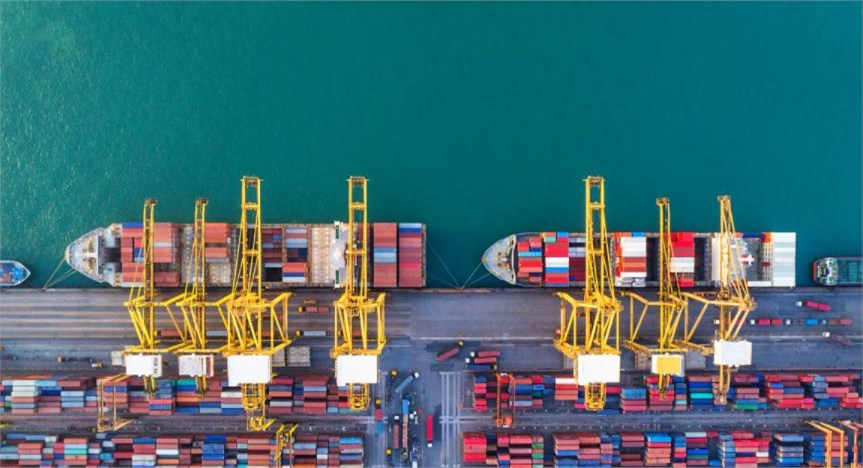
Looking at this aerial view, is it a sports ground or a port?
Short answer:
port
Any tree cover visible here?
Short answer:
No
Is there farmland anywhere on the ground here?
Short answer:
No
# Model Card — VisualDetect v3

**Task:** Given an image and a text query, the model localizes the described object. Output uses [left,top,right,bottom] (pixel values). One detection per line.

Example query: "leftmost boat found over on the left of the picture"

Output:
[0,261,35,285]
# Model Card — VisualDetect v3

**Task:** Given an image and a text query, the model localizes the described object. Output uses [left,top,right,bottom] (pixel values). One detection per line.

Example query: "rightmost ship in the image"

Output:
[806,257,863,286]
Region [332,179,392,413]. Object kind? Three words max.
container crane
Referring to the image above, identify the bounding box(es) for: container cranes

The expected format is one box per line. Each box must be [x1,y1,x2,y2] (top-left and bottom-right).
[490,368,517,431]
[225,179,296,412]
[276,420,306,468]
[332,179,392,413]
[680,196,754,406]
[173,200,237,395]
[246,373,279,432]
[554,179,624,413]
[121,200,188,393]
[823,418,863,468]
[99,372,139,432]
[620,200,689,395]
[799,418,845,468]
